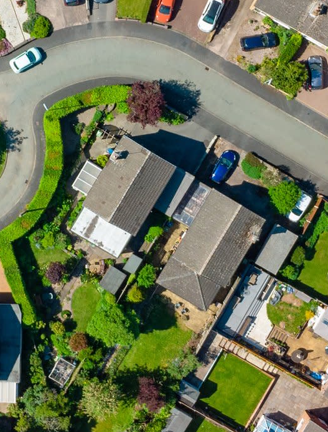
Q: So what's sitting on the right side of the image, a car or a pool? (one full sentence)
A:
The one visible on the right side of the image is a car.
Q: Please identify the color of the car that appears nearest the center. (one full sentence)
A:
The car that appears nearest the center looks blue in the image.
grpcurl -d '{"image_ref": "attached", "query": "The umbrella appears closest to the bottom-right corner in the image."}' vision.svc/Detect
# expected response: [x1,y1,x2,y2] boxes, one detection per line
[291,347,308,363]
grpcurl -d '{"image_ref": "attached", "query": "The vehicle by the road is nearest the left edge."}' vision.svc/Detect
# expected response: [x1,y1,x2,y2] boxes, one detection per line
[6,46,46,74]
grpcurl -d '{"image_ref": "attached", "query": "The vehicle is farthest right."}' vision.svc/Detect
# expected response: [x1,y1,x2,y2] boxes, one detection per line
[307,55,324,89]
